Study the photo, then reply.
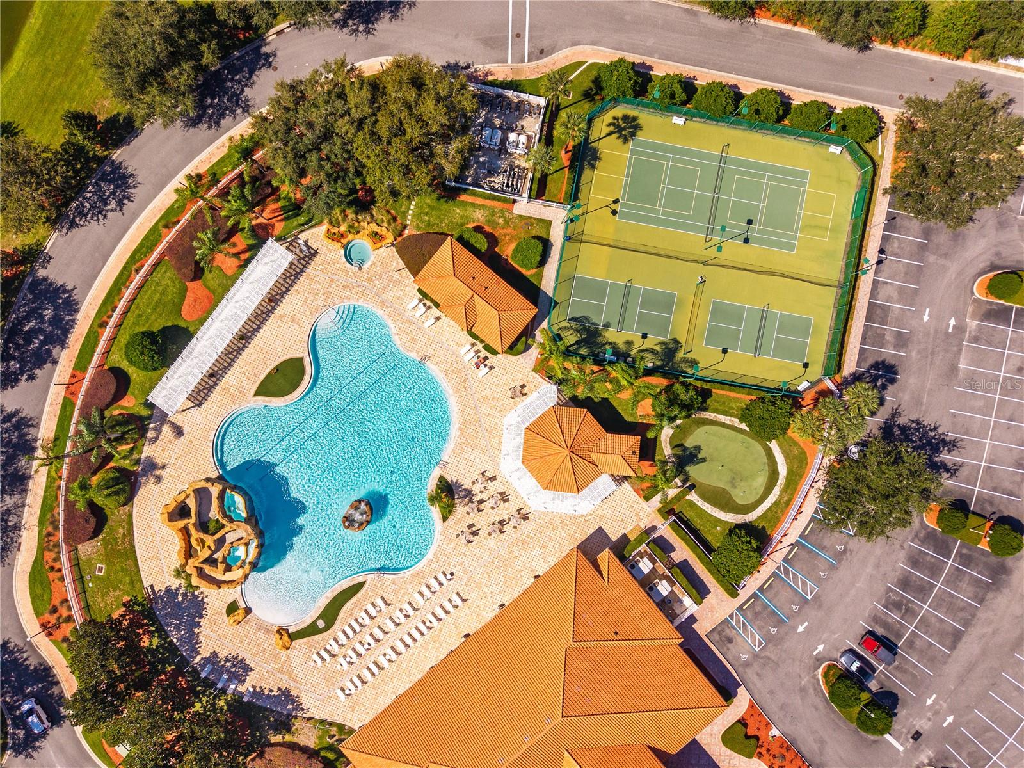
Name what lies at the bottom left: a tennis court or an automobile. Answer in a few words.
automobile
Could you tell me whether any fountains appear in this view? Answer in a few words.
Yes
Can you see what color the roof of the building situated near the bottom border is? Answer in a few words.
orange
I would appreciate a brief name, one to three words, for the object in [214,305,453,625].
swimming pool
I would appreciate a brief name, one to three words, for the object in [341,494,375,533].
fountain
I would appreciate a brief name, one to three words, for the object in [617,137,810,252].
tennis court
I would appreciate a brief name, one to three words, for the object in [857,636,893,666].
car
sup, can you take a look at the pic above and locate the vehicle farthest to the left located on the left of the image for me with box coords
[23,697,50,734]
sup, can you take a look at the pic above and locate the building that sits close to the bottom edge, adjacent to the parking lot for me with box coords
[338,548,729,768]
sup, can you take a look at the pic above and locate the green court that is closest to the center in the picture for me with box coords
[567,275,677,339]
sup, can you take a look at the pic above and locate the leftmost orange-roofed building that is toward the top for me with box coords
[413,236,539,354]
